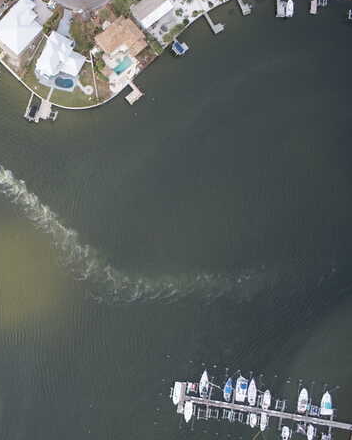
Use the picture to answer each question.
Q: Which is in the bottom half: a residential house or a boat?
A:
boat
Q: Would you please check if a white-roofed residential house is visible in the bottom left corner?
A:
No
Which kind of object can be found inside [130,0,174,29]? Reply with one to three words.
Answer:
house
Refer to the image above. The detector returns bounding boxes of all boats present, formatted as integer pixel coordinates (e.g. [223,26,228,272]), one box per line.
[286,0,294,17]
[307,423,313,440]
[250,412,257,427]
[225,378,242,402]
[185,400,193,422]
[189,381,196,393]
[263,390,271,410]
[200,371,216,398]
[171,39,189,57]
[309,406,320,415]
[260,412,268,430]
[174,380,181,404]
[249,378,267,405]
[298,388,309,412]
[320,433,331,440]
[282,425,289,440]
[322,391,332,413]
[235,376,248,402]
